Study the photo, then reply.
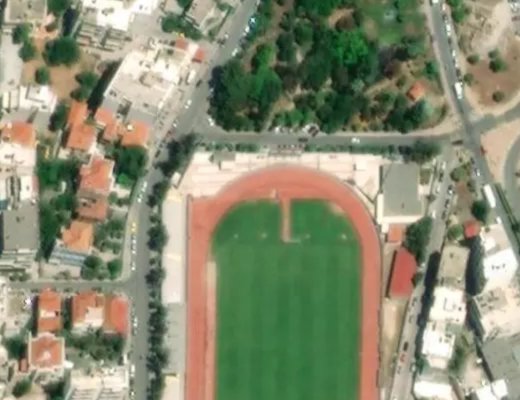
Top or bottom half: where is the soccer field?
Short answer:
bottom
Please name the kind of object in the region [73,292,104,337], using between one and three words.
house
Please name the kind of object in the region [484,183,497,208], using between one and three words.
vehicle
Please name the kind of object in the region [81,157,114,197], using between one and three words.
house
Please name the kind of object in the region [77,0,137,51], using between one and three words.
building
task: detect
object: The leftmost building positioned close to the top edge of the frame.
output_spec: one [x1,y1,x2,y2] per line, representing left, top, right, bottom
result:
[5,0,47,29]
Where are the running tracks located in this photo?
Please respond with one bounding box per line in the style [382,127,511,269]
[188,168,381,400]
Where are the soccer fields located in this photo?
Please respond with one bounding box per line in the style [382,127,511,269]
[213,201,362,400]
